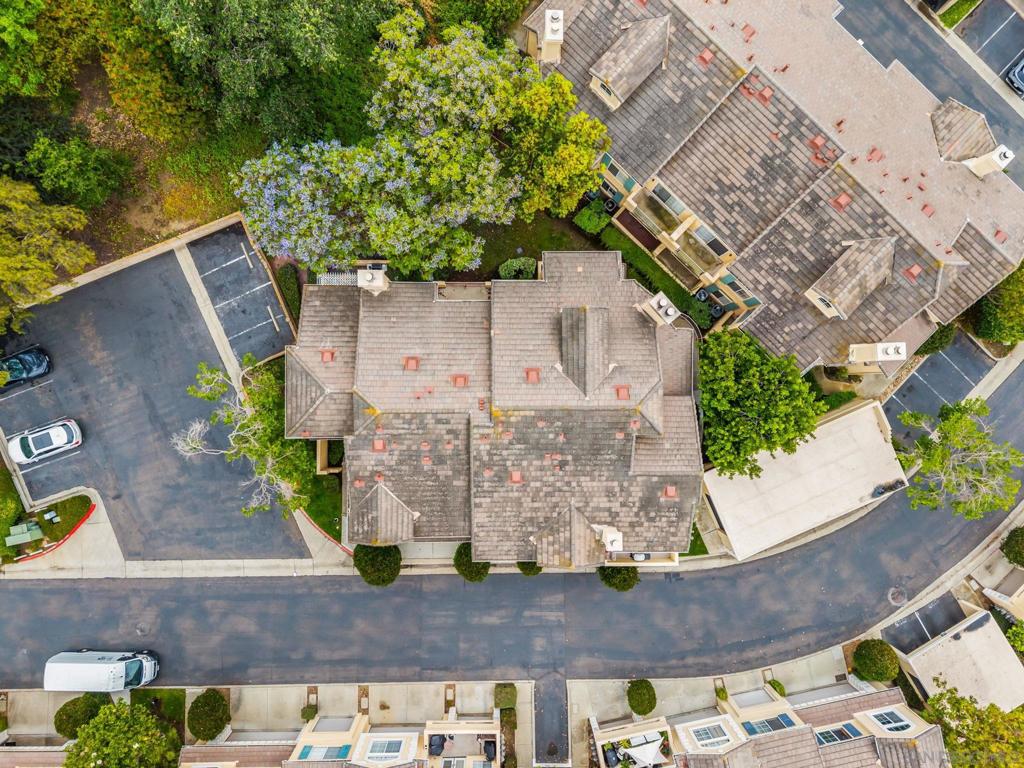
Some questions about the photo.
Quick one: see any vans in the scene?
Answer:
Yes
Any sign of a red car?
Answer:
No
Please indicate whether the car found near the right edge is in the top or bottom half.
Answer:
top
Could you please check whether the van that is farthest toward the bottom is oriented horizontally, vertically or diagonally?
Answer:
horizontally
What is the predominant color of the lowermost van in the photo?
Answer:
white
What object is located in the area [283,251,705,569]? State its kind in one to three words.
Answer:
building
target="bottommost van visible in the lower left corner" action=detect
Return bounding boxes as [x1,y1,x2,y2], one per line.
[46,648,159,693]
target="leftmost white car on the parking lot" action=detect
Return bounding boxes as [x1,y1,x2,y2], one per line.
[11,419,86,463]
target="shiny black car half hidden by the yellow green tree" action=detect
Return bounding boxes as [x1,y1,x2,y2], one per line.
[0,348,57,392]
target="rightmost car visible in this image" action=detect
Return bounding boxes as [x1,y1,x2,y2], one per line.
[1003,59,1024,97]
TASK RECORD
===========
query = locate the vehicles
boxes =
[11,419,86,463]
[1003,59,1024,97]
[0,348,57,392]
[46,648,159,693]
